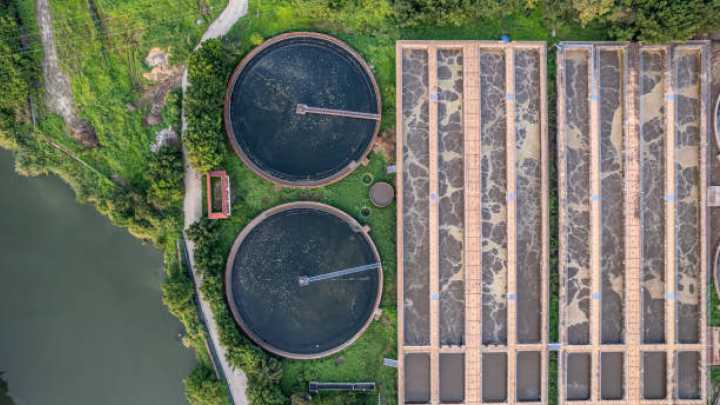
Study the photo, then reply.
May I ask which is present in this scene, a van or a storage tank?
storage tank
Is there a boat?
No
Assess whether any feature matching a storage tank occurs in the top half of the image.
Yes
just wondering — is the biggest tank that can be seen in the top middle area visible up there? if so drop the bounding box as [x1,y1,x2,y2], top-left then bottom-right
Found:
[225,32,382,188]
